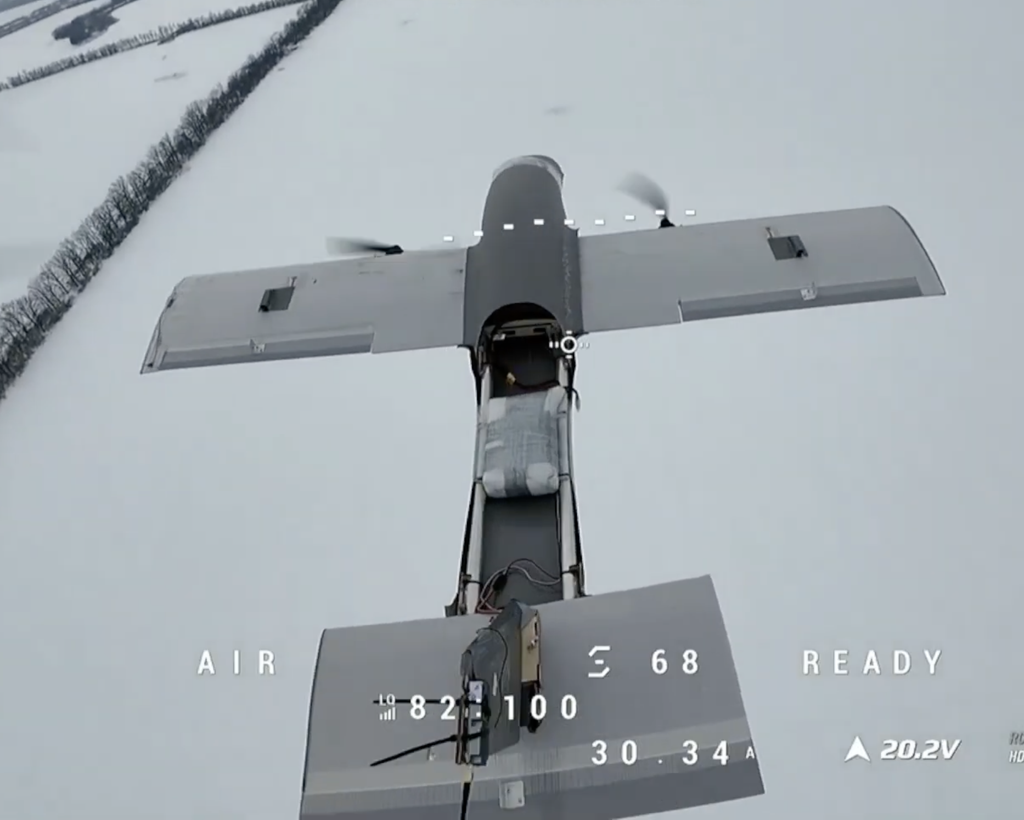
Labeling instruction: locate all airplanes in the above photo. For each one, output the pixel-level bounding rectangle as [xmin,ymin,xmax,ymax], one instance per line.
[140,152,948,820]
